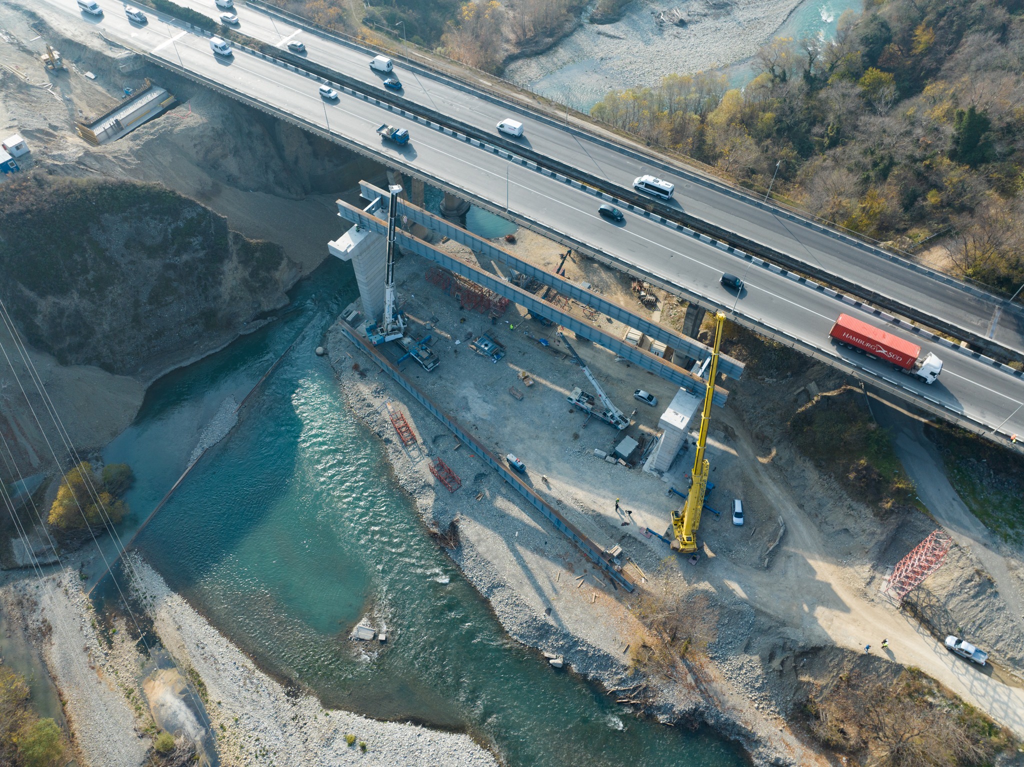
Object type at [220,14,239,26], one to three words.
vehicle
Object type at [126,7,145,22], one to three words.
car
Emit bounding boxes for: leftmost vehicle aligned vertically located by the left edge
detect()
[40,34,61,75]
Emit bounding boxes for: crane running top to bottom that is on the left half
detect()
[364,182,443,375]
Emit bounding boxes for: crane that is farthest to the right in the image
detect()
[642,311,729,565]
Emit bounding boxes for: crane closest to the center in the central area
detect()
[553,331,636,439]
